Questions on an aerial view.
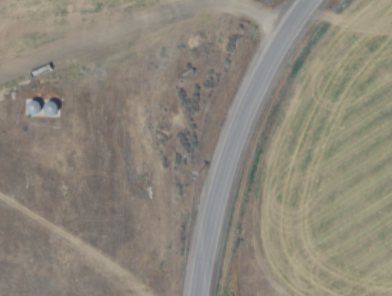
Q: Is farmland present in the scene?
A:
Yes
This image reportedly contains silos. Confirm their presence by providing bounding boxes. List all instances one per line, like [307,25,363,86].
[25,100,40,114]
[42,100,57,115]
